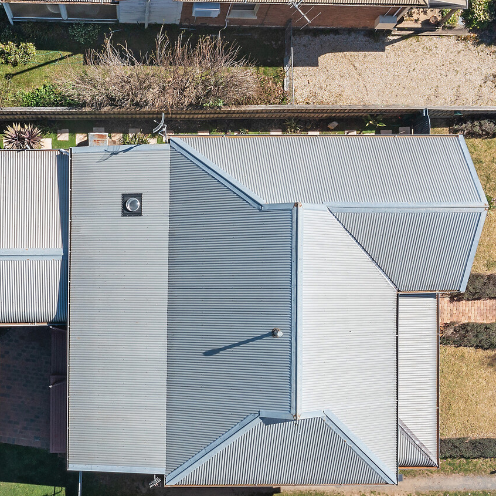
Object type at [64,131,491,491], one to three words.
house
